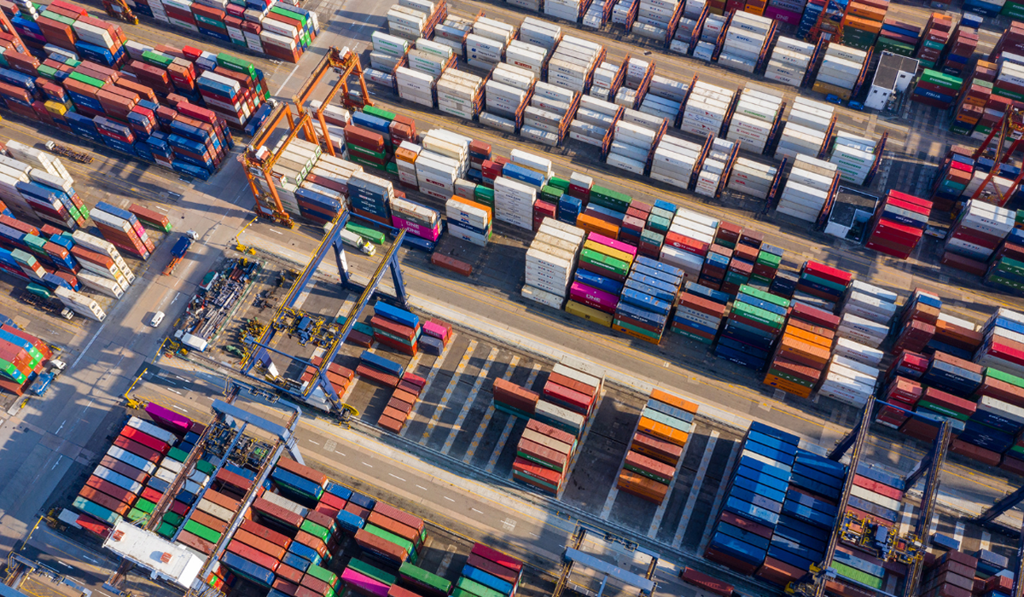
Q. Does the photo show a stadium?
No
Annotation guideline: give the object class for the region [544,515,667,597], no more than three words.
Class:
container crane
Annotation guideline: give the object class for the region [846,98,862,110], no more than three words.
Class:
vehicle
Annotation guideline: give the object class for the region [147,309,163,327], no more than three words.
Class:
vehicle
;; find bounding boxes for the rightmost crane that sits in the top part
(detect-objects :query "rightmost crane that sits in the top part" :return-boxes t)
[943,111,1024,247]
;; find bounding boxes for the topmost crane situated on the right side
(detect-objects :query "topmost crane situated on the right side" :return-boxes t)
[800,0,859,47]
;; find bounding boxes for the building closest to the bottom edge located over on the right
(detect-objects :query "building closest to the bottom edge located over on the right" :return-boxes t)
[825,184,881,245]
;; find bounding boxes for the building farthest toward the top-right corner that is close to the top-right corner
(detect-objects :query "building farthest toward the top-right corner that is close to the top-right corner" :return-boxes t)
[864,50,921,116]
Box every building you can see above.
[864,50,921,116]
[825,184,881,245]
